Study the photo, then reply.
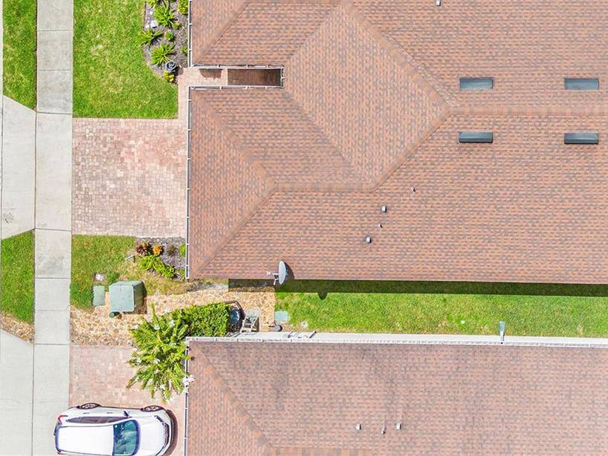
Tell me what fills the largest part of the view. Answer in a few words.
buildings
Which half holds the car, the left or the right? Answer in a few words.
left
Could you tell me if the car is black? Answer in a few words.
No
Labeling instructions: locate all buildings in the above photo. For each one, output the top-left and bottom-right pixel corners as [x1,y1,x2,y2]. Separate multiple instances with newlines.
[184,0,608,284]
[184,326,608,456]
